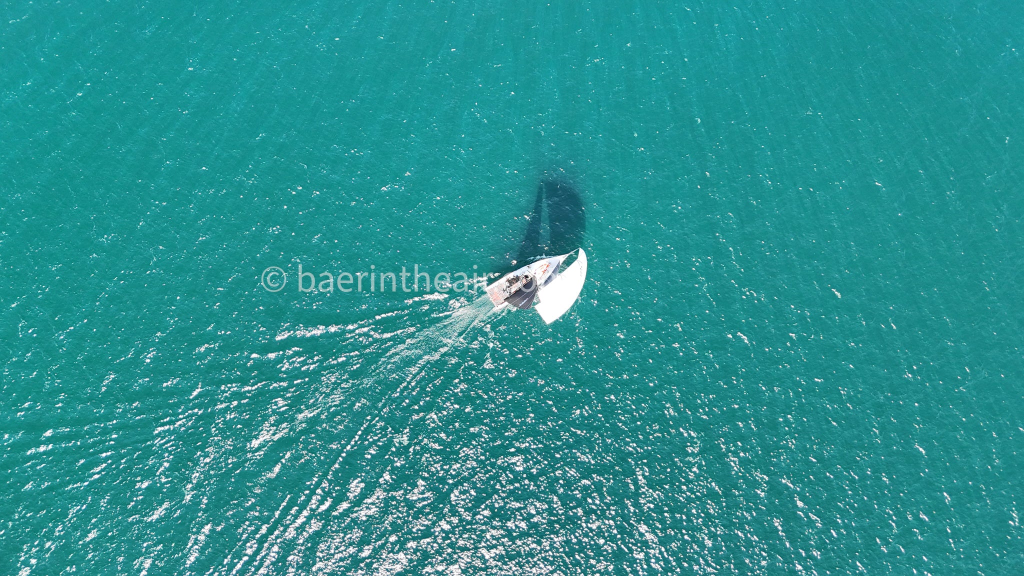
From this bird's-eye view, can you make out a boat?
Yes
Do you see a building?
No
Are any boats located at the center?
Yes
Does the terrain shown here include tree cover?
No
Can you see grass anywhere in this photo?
No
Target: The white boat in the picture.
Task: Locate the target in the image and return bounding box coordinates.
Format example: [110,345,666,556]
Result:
[485,248,586,324]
